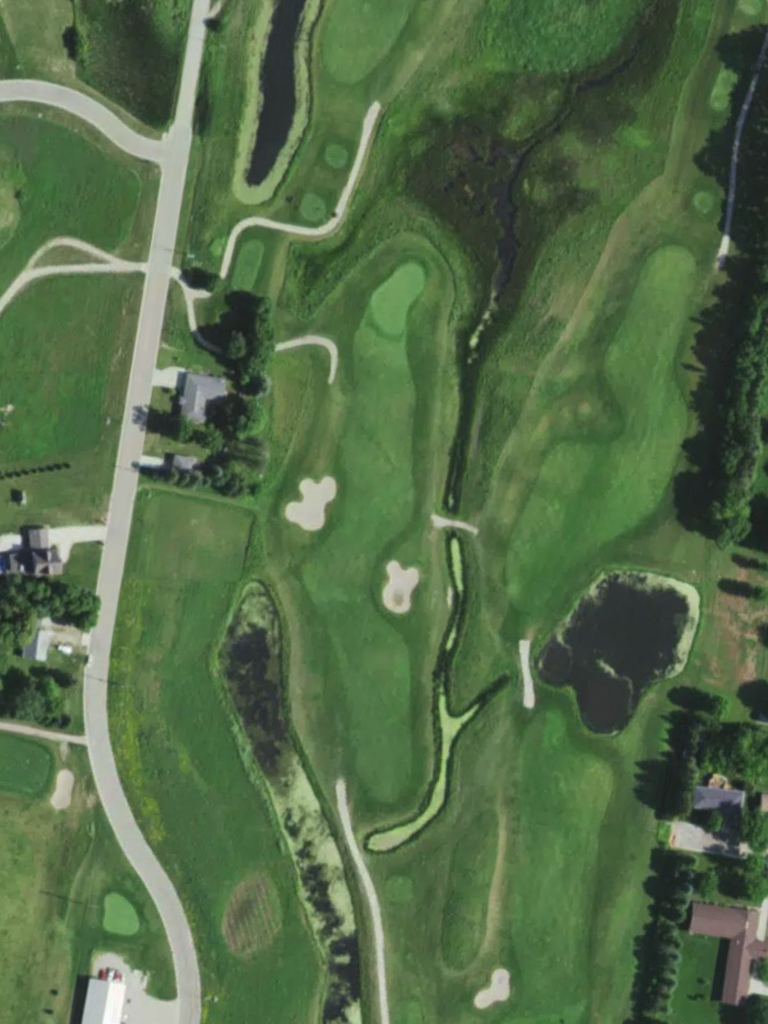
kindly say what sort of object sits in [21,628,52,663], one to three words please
shed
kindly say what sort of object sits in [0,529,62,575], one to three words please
house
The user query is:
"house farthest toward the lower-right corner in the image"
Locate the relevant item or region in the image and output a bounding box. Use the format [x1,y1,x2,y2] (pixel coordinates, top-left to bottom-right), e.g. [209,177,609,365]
[688,902,768,1009]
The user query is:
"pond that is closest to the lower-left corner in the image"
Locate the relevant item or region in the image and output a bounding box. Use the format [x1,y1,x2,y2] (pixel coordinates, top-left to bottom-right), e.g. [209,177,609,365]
[220,581,361,1024]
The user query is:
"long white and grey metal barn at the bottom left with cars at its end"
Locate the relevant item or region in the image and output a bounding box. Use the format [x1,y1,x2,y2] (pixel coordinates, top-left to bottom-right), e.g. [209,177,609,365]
[82,982,126,1024]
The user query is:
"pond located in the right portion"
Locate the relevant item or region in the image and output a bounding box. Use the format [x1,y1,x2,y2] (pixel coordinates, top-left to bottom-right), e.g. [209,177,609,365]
[536,568,700,736]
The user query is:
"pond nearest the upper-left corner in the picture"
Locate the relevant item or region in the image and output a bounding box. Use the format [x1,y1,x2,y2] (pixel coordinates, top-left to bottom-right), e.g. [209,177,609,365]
[234,0,322,204]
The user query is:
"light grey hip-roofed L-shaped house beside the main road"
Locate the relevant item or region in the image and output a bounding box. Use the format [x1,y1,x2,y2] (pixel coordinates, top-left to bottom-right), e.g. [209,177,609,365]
[179,370,231,423]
